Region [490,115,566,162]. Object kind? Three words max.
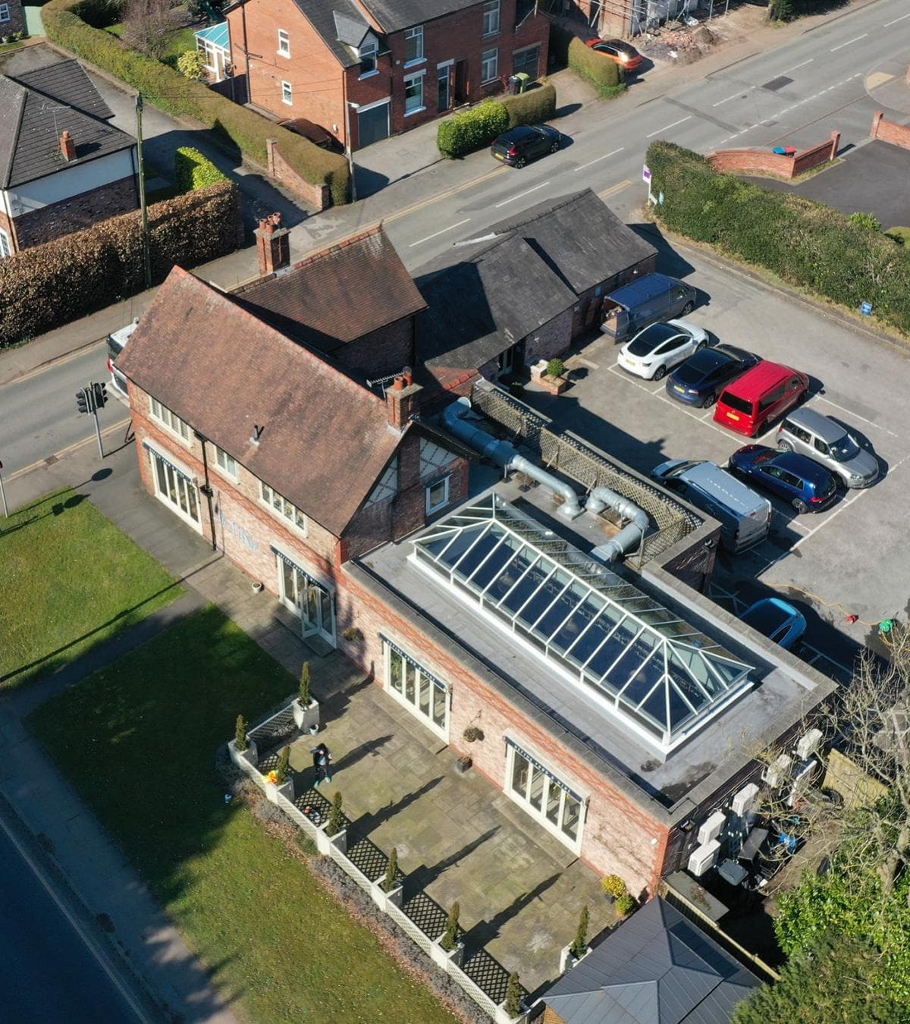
car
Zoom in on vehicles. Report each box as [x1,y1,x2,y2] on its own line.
[736,594,812,653]
[773,396,890,486]
[587,269,708,349]
[712,354,817,436]
[615,316,715,383]
[103,326,145,385]
[725,433,846,511]
[490,115,566,162]
[637,450,778,553]
[664,340,766,411]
